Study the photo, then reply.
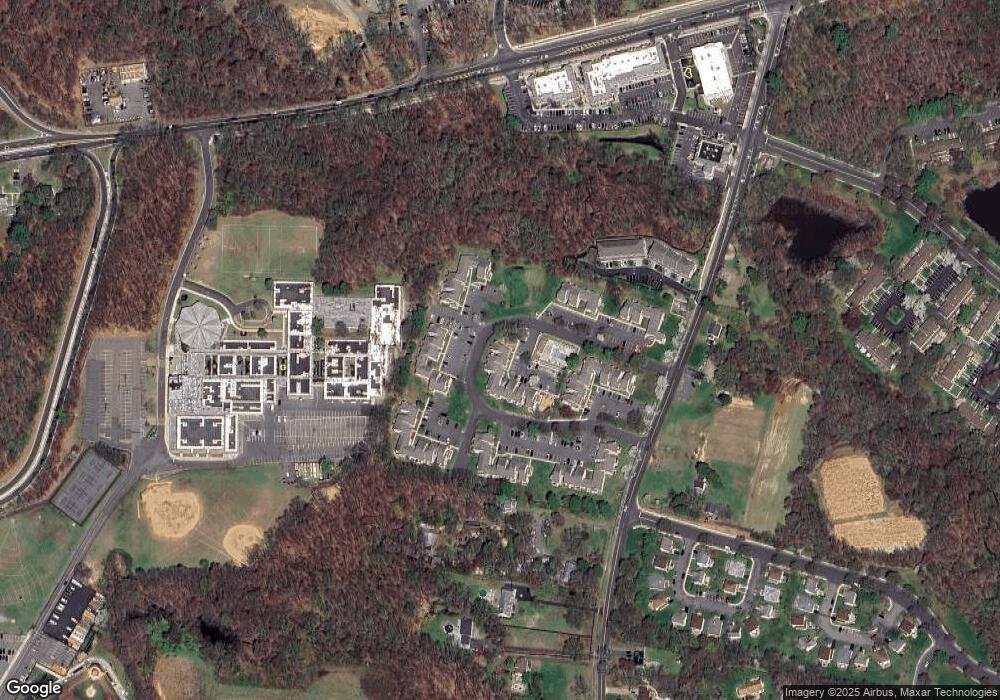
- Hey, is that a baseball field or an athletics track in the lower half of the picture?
baseball field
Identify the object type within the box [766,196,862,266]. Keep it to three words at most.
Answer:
pond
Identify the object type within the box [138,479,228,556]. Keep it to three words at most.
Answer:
baseball field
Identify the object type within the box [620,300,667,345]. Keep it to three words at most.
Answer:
building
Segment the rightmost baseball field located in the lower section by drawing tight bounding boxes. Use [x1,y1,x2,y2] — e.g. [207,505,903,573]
[224,525,271,565]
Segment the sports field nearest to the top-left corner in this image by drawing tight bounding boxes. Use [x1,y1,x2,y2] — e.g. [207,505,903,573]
[203,210,320,286]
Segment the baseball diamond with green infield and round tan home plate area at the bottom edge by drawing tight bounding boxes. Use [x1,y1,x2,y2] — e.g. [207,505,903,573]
[61,659,127,700]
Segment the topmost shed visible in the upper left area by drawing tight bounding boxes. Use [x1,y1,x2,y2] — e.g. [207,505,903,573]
[120,62,146,83]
